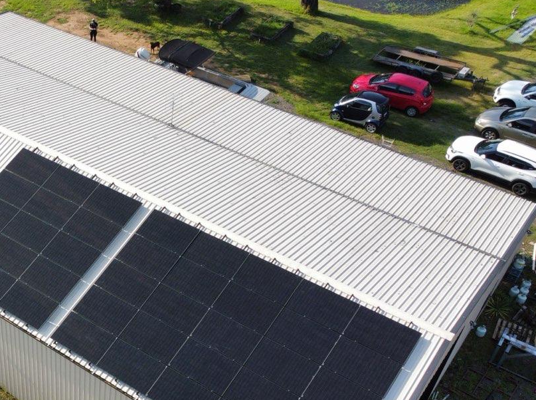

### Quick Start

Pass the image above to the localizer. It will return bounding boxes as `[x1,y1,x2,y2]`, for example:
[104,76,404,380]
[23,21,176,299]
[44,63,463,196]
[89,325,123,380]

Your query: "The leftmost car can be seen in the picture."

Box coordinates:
[330,89,394,134]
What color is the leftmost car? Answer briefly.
black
